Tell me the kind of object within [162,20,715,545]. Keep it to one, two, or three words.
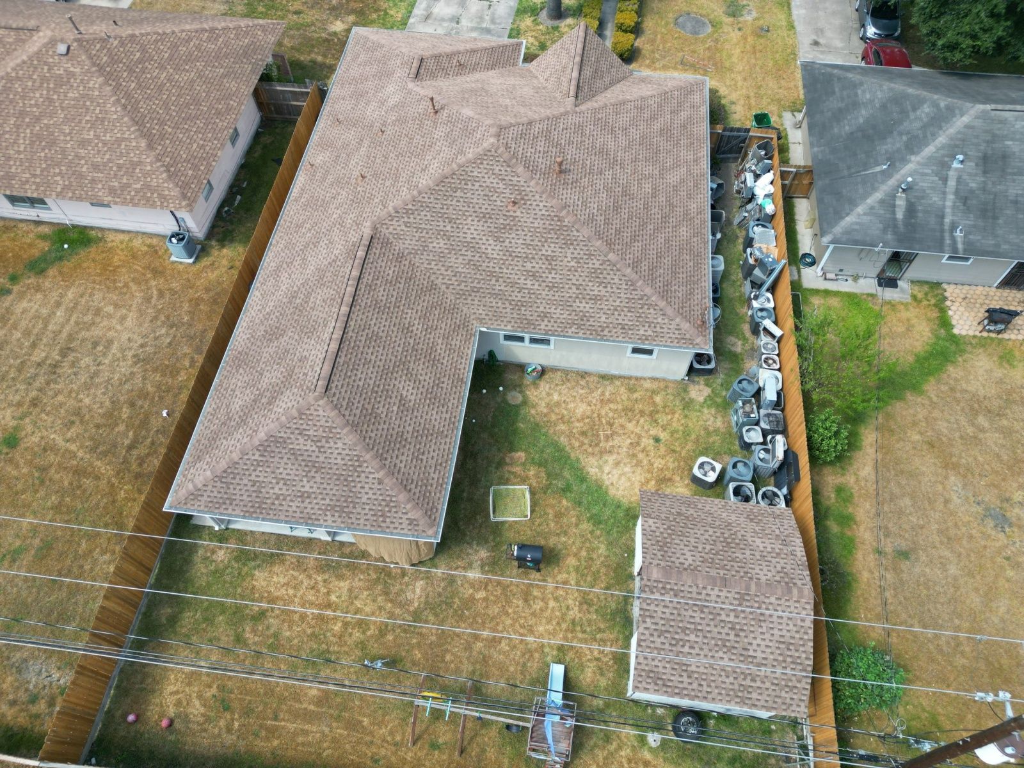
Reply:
house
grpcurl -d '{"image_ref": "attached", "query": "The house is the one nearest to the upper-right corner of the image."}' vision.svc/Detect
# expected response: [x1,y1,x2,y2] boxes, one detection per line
[794,60,1024,295]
